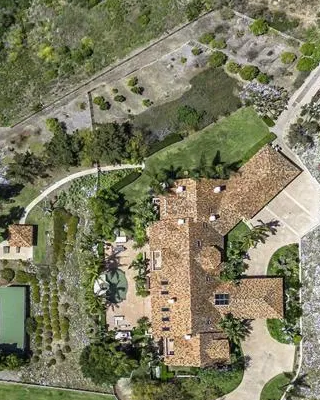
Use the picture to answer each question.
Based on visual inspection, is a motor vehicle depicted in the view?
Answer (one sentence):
No, I can't see a single motor vehicle in this photo.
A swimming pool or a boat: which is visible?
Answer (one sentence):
The image shows a swimming pool.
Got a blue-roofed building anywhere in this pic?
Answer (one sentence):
No, the frame has no blue-roofed building in it.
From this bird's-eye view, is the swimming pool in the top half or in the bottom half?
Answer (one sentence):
The swimming pool is in the bottom half of the image.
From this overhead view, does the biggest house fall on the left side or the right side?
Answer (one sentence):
It is on the right.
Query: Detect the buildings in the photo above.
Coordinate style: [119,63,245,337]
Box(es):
[149,142,303,367]
[9,225,32,246]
